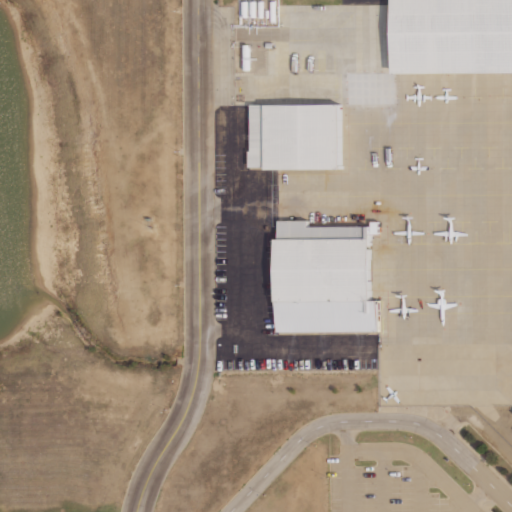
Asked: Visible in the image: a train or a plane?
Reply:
plane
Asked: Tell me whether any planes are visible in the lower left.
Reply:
No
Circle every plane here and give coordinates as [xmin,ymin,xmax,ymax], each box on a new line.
[427,292,458,326]
[409,158,429,176]
[436,88,458,104]
[388,295,419,320]
[392,217,424,246]
[382,386,400,404]
[406,85,432,106]
[432,216,468,244]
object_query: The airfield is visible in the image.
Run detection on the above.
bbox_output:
[212,0,512,426]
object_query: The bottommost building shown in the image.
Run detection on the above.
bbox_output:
[271,221,381,333]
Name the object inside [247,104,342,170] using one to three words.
hangar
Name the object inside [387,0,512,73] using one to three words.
hangar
